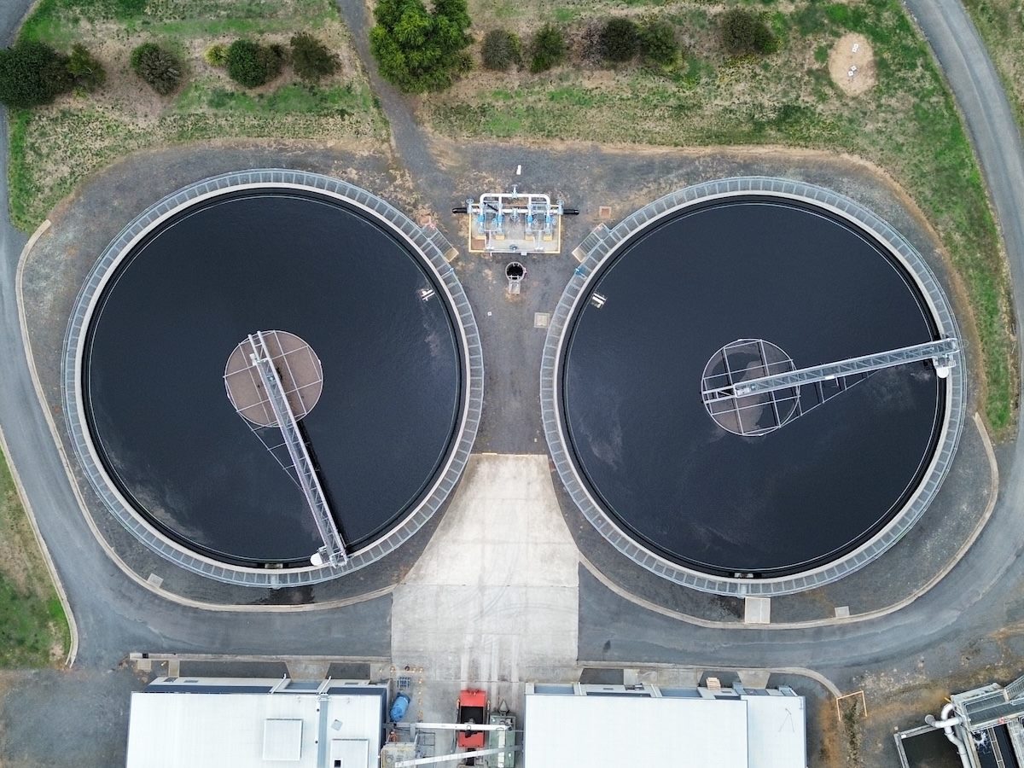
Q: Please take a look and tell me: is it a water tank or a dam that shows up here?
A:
water tank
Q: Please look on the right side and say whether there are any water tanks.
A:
Yes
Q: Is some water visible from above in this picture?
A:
Yes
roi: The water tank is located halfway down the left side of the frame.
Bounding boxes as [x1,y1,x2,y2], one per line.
[60,168,481,589]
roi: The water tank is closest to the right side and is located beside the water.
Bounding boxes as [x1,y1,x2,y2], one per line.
[544,175,967,599]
